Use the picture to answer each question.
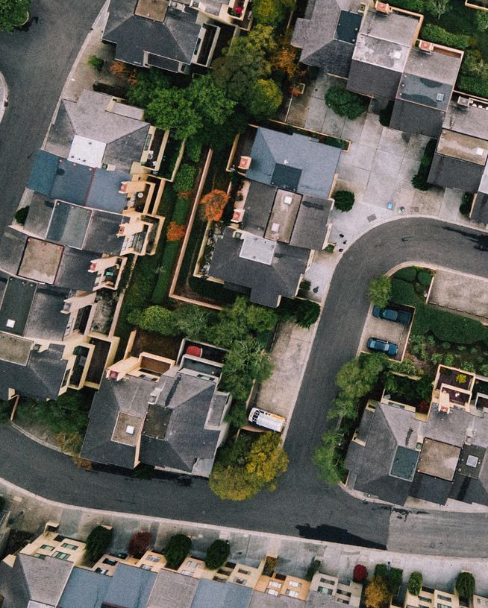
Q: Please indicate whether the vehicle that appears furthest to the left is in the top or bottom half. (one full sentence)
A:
It is in the bottom half that the vehicle that appears furthest to the left appears.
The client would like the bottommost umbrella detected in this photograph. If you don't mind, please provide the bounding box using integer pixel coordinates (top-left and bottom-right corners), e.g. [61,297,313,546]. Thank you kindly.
[188,344,201,356]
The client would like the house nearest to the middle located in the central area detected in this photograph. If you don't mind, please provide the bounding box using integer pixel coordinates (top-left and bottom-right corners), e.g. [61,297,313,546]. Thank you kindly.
[208,227,311,306]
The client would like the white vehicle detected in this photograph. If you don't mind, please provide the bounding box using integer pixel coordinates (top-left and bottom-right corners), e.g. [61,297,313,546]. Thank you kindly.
[247,406,288,434]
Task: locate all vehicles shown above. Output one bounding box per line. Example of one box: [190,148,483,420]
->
[374,304,412,325]
[367,337,398,355]
[247,406,288,434]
